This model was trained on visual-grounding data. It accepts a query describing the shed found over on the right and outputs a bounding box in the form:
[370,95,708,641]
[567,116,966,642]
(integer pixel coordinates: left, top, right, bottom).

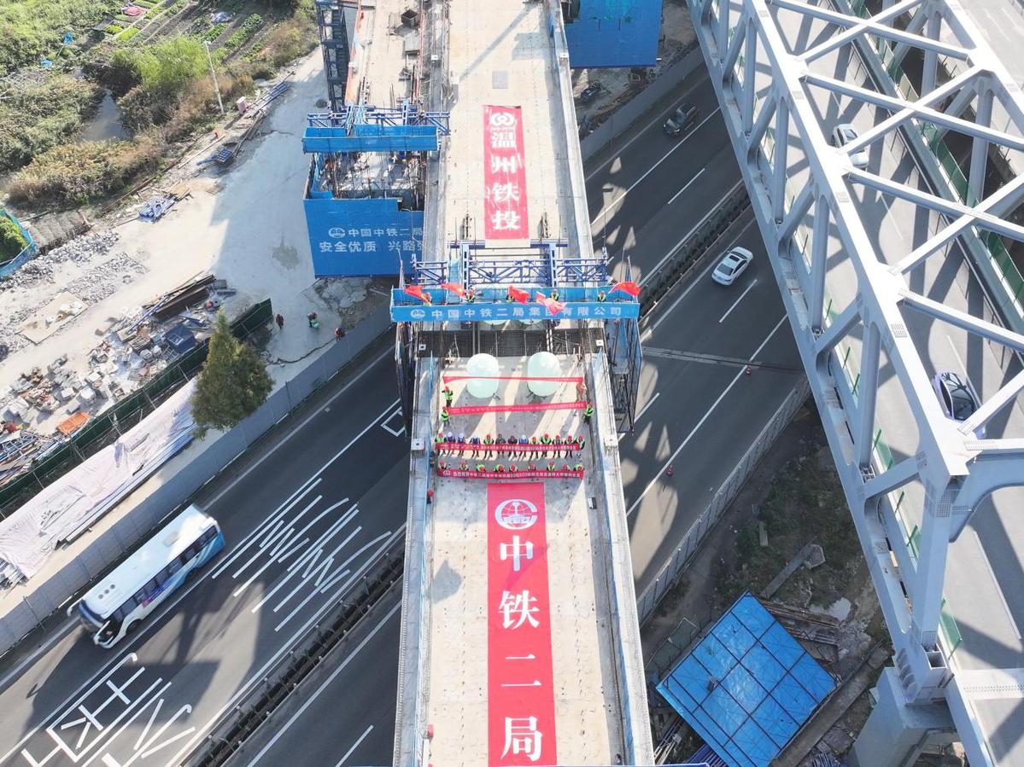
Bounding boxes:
[652,591,837,767]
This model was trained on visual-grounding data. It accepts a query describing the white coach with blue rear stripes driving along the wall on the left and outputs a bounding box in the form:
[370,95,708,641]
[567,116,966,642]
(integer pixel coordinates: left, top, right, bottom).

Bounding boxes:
[52,487,231,647]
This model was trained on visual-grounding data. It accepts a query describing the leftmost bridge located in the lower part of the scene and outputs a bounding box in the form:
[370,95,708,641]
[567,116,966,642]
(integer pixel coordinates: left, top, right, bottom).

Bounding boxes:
[395,343,649,767]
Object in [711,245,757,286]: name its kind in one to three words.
car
